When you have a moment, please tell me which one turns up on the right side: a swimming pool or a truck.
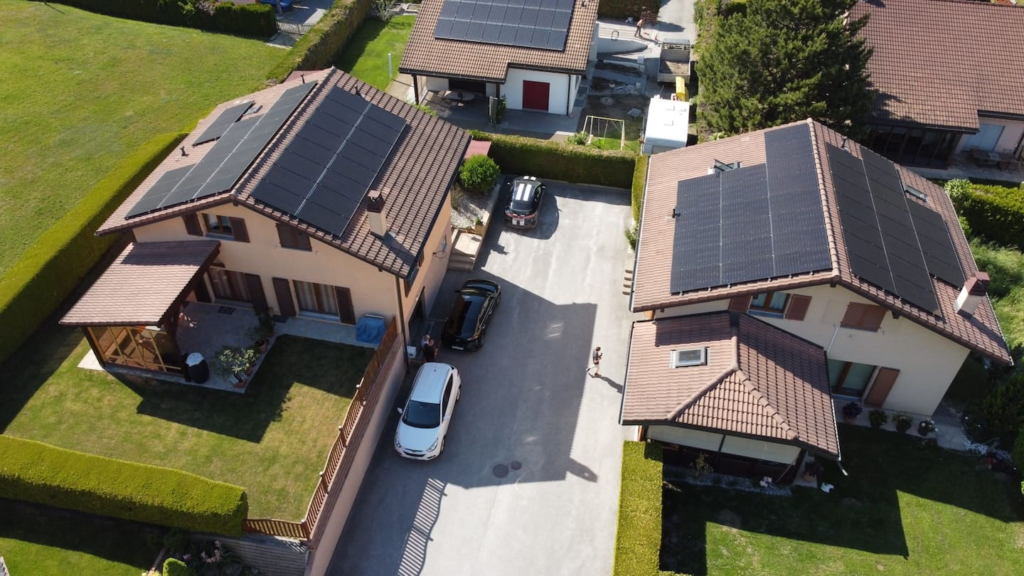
truck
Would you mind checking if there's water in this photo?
No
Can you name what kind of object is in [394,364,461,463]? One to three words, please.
car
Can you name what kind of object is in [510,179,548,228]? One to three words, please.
car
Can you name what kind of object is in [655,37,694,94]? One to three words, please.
truck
